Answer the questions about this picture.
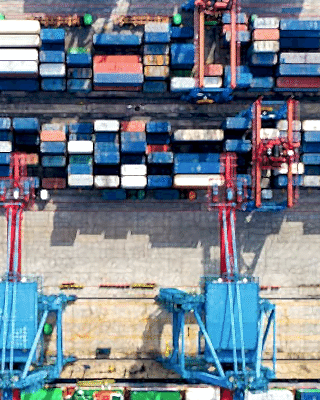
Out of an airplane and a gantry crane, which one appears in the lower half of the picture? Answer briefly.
gantry crane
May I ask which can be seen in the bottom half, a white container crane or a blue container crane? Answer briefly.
blue container crane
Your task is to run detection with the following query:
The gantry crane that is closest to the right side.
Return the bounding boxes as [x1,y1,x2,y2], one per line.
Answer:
[240,93,297,216]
